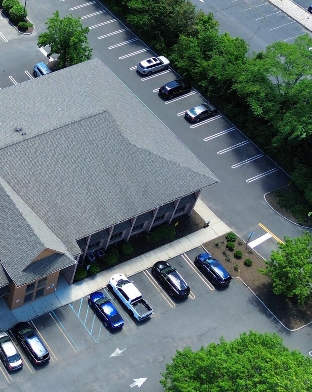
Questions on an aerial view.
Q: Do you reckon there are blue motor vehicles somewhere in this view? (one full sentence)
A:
Yes, this view includes a blue motor vehicle.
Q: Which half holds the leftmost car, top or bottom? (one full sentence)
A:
Seen from above, the leftmost car lies in the bottom half of the view.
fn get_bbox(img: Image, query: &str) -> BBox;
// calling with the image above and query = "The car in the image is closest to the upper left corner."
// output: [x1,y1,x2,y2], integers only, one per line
[30,61,51,77]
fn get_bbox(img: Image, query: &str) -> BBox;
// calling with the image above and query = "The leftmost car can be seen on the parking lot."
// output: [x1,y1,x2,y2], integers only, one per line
[0,329,27,372]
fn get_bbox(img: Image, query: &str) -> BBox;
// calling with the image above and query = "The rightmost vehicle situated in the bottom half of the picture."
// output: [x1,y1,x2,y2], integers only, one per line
[191,246,231,284]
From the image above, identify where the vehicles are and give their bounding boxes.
[90,287,130,328]
[0,329,27,372]
[185,101,221,122]
[161,77,197,97]
[191,246,231,284]
[150,260,191,301]
[30,61,51,77]
[137,56,172,75]
[107,272,153,321]
[11,318,51,364]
